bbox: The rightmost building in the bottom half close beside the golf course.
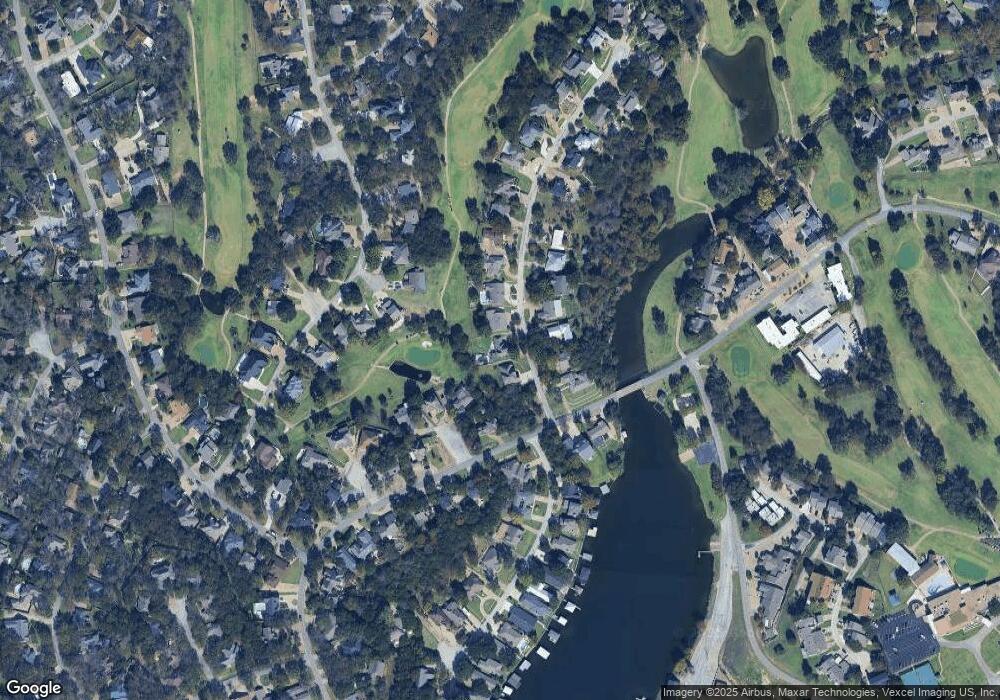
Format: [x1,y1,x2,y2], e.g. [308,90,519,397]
[930,572,1000,638]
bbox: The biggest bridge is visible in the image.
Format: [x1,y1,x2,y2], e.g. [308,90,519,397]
[610,369,657,399]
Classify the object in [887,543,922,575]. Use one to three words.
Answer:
barn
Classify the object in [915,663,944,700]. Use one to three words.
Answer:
tennis court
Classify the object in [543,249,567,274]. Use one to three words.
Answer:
house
